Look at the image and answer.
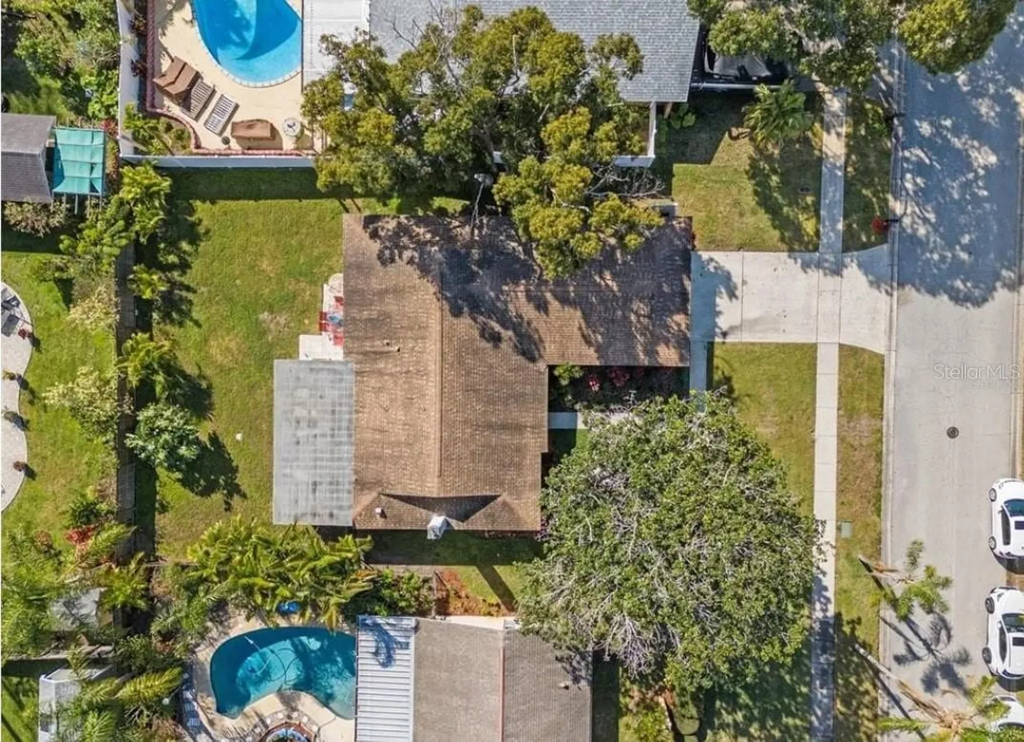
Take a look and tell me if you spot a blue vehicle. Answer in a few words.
No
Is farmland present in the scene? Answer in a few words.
No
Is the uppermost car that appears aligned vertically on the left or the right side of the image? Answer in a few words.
right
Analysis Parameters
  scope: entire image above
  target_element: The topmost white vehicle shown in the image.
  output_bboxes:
[990,476,1024,560]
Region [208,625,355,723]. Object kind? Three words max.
swimming pool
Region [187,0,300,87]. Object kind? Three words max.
swimming pool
